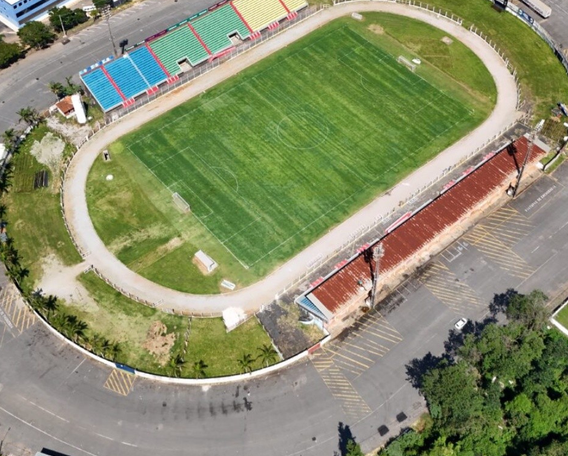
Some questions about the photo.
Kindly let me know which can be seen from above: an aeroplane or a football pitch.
football pitch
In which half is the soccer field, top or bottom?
top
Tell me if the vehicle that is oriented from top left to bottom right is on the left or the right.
right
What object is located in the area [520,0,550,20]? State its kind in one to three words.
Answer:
vehicle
